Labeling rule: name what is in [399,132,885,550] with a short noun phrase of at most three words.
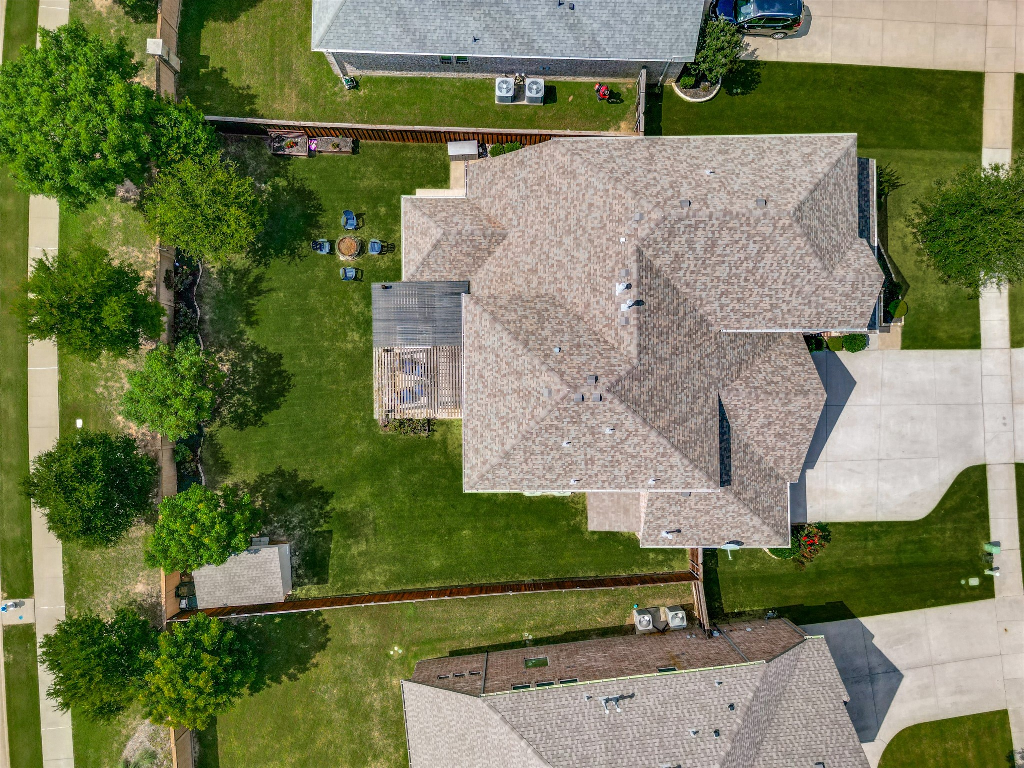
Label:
house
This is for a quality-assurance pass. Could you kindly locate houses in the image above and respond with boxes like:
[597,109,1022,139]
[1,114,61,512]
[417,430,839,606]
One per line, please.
[310,0,705,94]
[399,132,885,550]
[404,614,873,768]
